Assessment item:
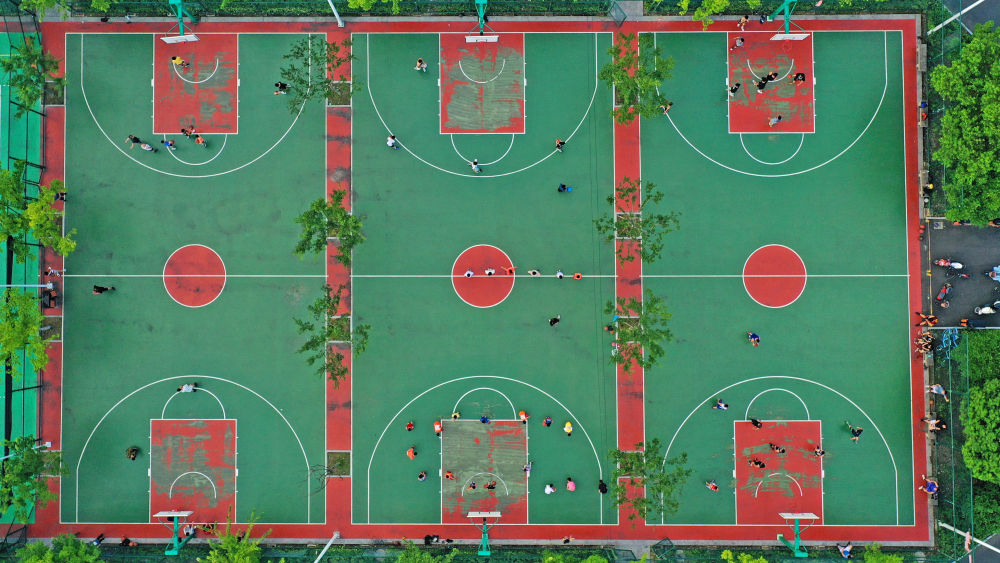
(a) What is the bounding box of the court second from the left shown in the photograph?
[60,33,326,524]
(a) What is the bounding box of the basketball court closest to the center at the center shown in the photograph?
[351,31,617,524]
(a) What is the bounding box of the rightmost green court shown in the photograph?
[640,30,913,525]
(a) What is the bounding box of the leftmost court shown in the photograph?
[0,32,49,521]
